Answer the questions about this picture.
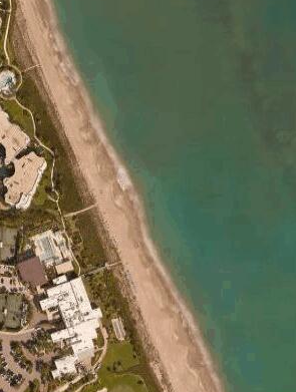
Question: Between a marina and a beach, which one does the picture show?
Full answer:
This looks like a beach.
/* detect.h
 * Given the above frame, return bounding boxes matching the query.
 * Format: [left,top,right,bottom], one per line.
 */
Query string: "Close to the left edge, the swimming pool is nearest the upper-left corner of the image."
[0,69,18,93]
